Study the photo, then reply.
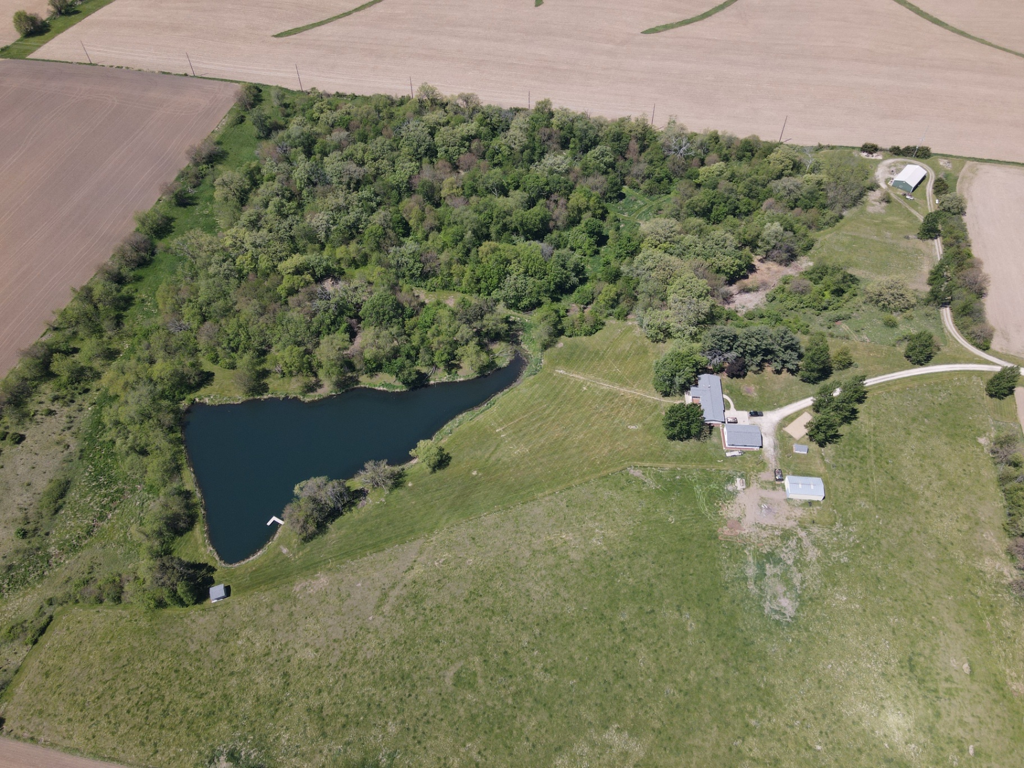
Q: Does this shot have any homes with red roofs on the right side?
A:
No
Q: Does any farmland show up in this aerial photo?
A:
Yes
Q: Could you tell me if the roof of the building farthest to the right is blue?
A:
No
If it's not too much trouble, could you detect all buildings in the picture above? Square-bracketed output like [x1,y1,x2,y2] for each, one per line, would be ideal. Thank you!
[790,444,808,455]
[689,374,727,426]
[891,165,927,194]
[209,585,227,604]
[784,476,825,501]
[724,424,763,450]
